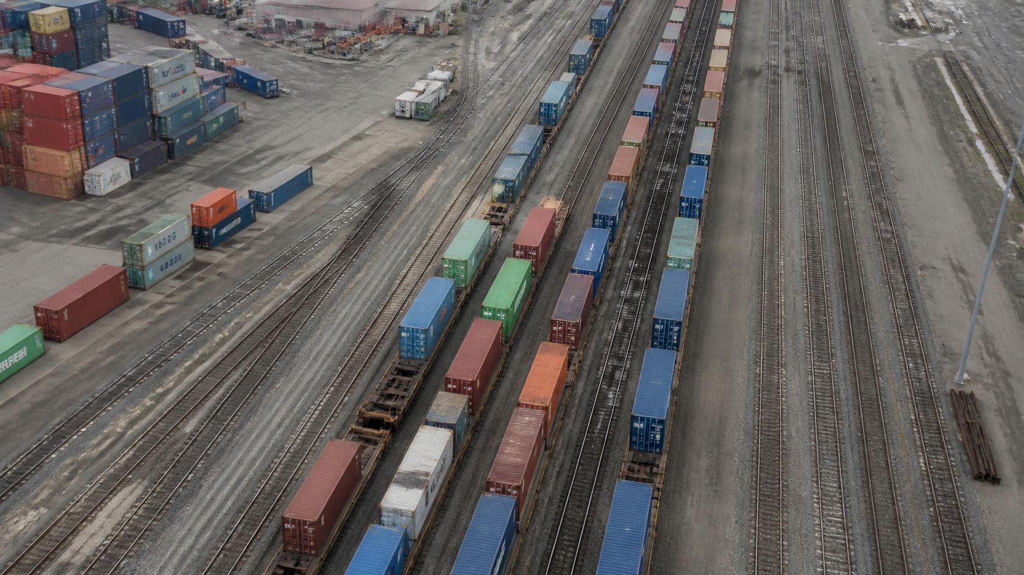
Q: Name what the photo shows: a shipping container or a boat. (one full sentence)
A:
Visible in the photo is a shipping container.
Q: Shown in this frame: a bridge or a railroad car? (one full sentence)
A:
This aerial view contains a railroad car.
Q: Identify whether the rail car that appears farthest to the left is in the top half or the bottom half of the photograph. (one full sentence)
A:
The rail car that appears farthest to the left sits in the bottom half of the picture.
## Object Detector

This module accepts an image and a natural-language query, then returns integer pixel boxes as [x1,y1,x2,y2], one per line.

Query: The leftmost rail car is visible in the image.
[262,444,383,575]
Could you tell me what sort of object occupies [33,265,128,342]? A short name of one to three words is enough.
shipping container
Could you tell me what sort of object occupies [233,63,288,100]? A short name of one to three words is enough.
shipping container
